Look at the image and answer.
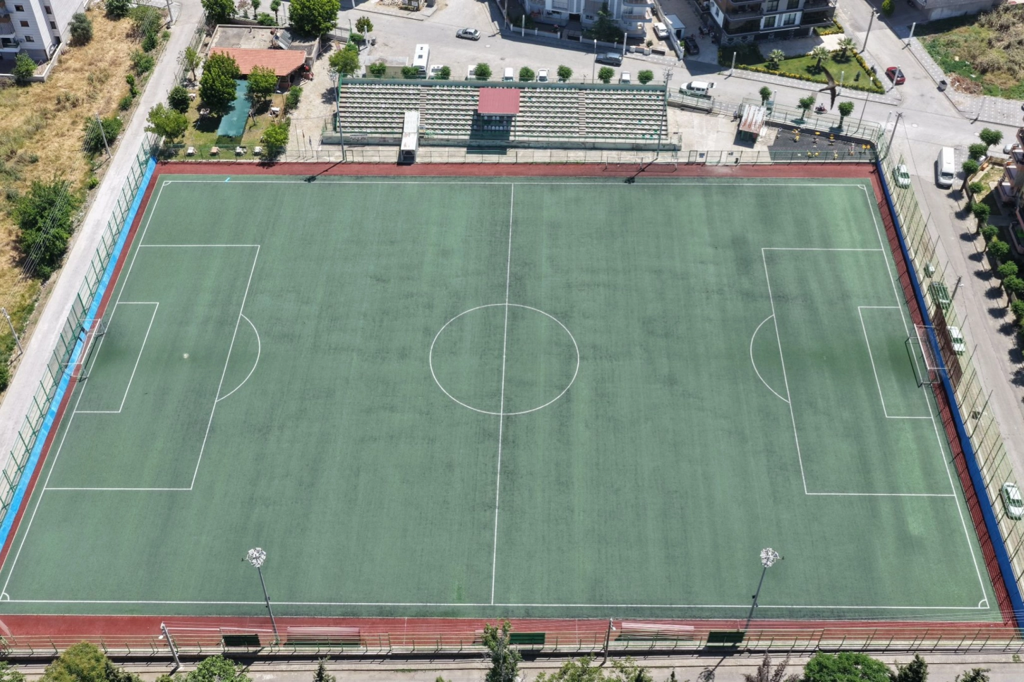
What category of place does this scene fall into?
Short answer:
sports ground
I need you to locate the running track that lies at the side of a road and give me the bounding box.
[0,162,1020,647]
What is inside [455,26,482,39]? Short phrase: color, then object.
gray vehicle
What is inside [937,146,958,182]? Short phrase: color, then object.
white vehicle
